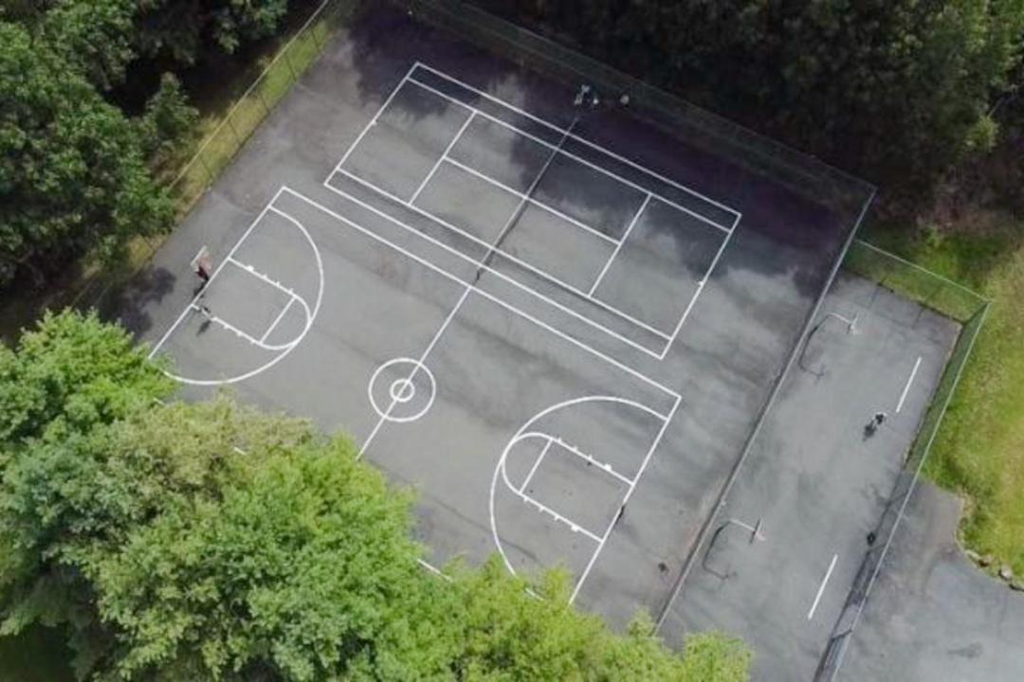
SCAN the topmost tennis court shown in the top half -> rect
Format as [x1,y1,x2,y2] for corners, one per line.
[323,61,742,361]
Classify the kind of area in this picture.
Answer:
sports ground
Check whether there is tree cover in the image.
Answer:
Yes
